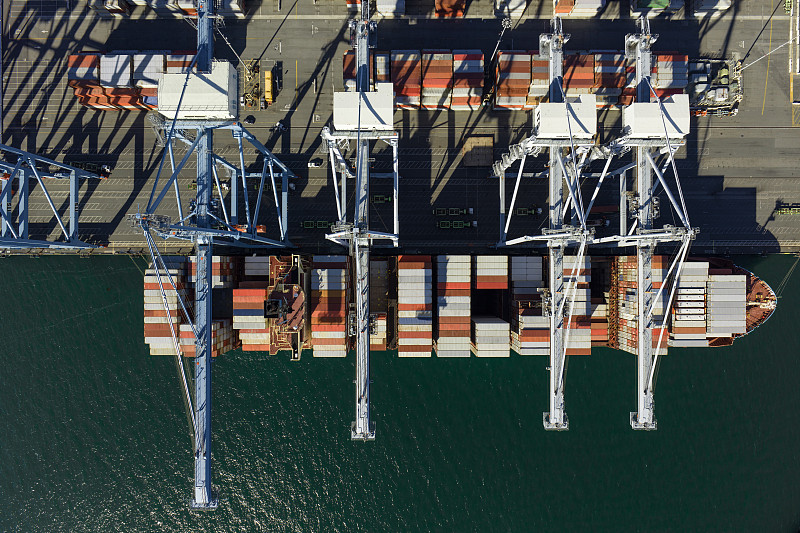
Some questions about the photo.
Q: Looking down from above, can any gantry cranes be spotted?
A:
Yes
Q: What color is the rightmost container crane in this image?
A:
white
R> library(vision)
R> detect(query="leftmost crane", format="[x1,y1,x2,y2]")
[0,168,38,248]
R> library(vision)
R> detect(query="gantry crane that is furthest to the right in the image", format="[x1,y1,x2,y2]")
[562,8,709,428]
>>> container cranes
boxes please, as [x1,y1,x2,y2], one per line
[0,168,38,248]
[0,143,110,248]
[109,0,305,506]
[484,8,607,428]
[562,8,709,428]
[320,0,406,438]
